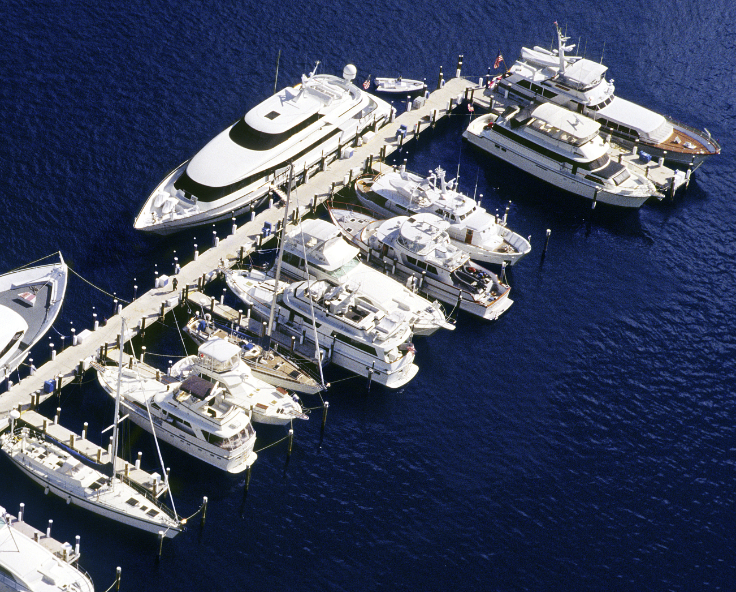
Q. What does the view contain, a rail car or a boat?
boat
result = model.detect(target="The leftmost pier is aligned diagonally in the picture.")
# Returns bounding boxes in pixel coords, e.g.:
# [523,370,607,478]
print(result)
[0,507,87,570]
